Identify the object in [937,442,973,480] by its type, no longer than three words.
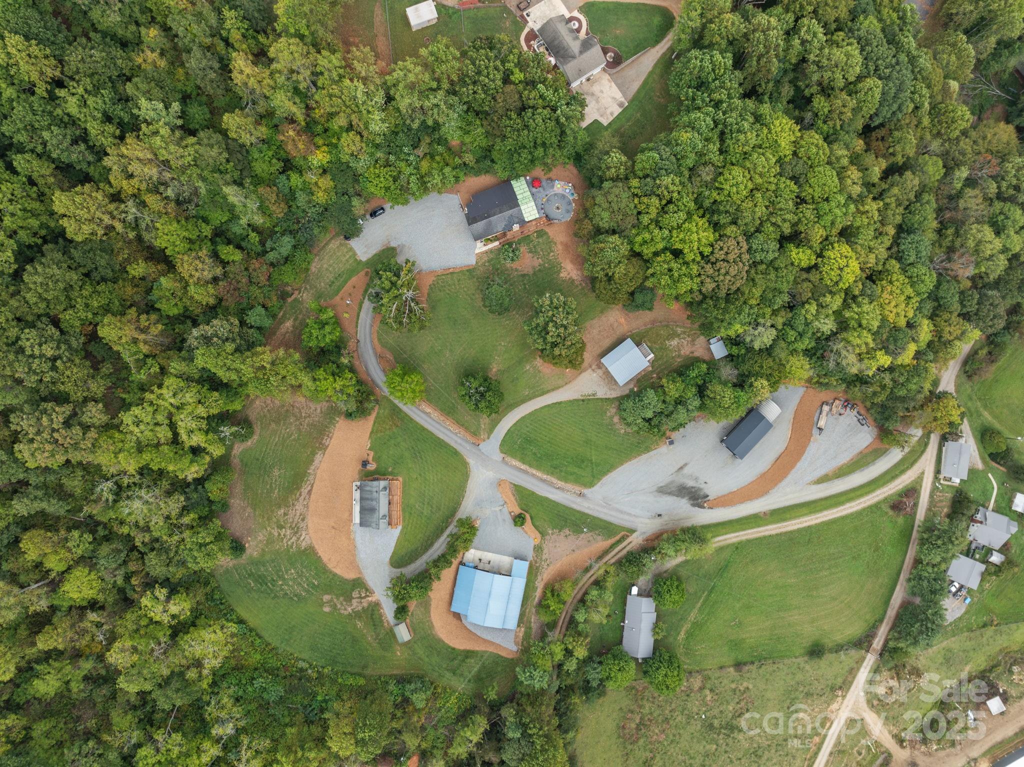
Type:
house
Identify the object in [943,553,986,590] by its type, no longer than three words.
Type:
building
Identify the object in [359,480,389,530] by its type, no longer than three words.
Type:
house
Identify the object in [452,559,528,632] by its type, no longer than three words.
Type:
building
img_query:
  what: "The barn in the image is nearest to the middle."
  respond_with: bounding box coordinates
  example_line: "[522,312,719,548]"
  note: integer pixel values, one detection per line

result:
[601,338,649,386]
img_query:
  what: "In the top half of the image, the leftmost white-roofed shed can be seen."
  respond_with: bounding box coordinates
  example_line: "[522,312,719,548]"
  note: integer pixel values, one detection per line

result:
[406,0,438,29]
